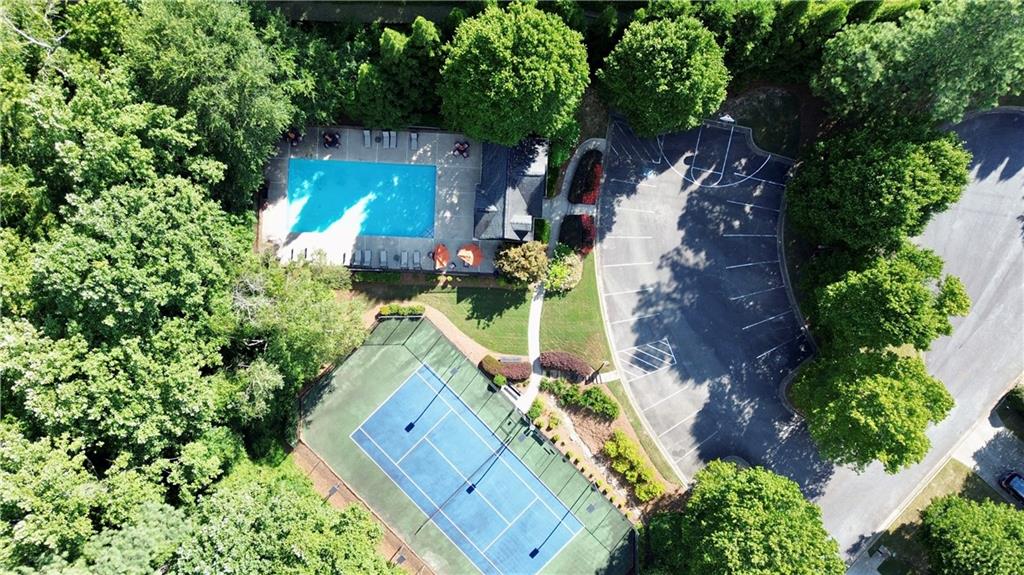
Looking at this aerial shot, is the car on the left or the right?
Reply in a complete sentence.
It is on the right.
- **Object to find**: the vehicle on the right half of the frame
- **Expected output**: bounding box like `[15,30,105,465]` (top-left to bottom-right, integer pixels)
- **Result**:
[1000,468,1024,502]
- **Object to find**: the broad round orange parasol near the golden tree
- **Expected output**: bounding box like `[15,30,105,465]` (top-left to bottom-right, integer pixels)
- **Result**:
[457,241,482,266]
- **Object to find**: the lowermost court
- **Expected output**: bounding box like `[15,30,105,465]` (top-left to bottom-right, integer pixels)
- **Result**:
[301,317,634,575]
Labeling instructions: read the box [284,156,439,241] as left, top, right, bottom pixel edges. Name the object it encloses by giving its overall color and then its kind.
blue swimming pool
